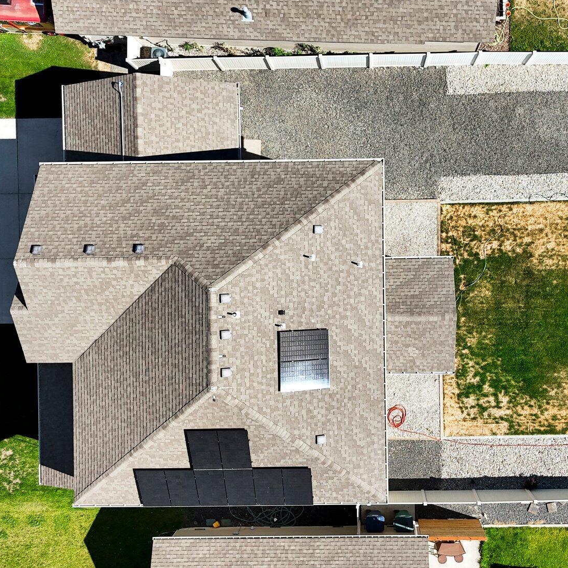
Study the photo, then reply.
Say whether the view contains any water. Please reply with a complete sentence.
No, no water is visible.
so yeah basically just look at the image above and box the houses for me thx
[49,0,496,48]
[10,72,457,509]
[149,526,430,568]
